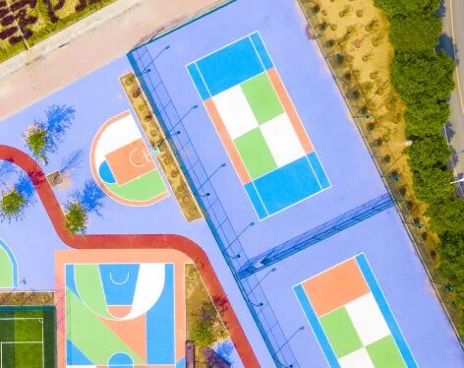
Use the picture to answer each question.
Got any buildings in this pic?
No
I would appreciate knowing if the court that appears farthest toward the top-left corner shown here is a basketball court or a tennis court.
basketball court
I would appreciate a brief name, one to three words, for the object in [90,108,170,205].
basketball court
